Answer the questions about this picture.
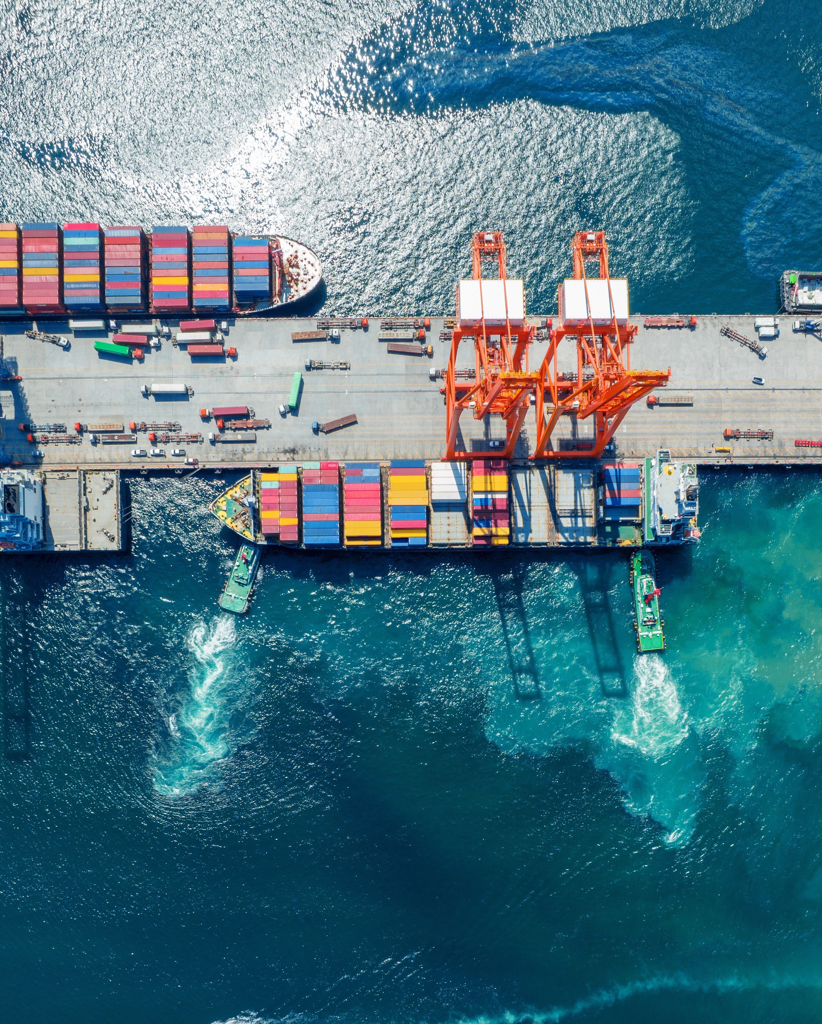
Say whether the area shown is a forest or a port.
port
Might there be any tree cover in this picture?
No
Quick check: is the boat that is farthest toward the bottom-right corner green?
Yes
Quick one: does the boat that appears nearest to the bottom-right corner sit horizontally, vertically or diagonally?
vertically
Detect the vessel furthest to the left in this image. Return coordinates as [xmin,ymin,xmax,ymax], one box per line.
[0,466,126,556]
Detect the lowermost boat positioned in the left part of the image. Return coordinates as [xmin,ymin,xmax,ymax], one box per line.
[218,535,263,616]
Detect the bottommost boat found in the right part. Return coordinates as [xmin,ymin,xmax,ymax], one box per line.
[632,548,669,654]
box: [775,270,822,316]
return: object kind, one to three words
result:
ship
